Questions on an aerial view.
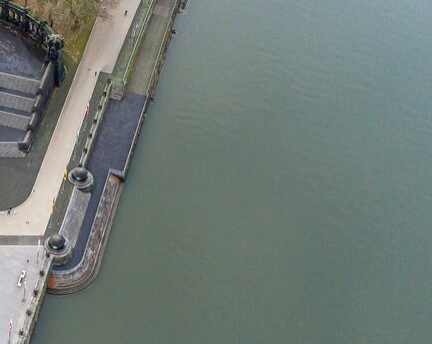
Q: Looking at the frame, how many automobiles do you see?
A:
0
